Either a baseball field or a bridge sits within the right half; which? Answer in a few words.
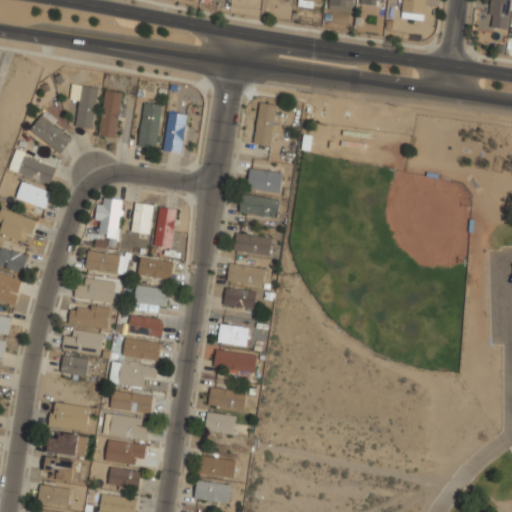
baseball field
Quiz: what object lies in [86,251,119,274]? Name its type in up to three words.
house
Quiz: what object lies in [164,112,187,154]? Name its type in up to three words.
house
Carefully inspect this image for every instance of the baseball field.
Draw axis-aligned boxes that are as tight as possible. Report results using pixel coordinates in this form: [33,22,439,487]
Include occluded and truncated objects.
[290,152,472,373]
